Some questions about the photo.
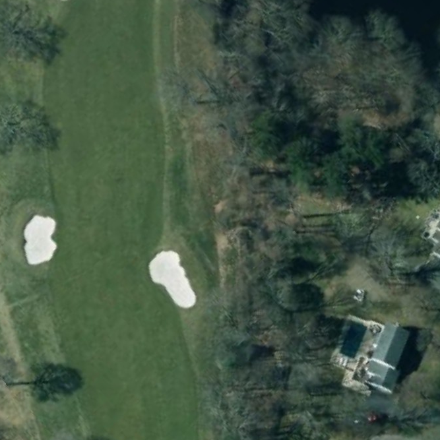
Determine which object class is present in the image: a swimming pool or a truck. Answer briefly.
swimming pool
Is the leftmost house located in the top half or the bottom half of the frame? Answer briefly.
bottom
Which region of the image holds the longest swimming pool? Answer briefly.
bottom right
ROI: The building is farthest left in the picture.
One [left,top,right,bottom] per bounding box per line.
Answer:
[365,320,412,390]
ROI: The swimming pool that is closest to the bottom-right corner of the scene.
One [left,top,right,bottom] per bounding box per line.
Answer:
[339,321,369,359]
